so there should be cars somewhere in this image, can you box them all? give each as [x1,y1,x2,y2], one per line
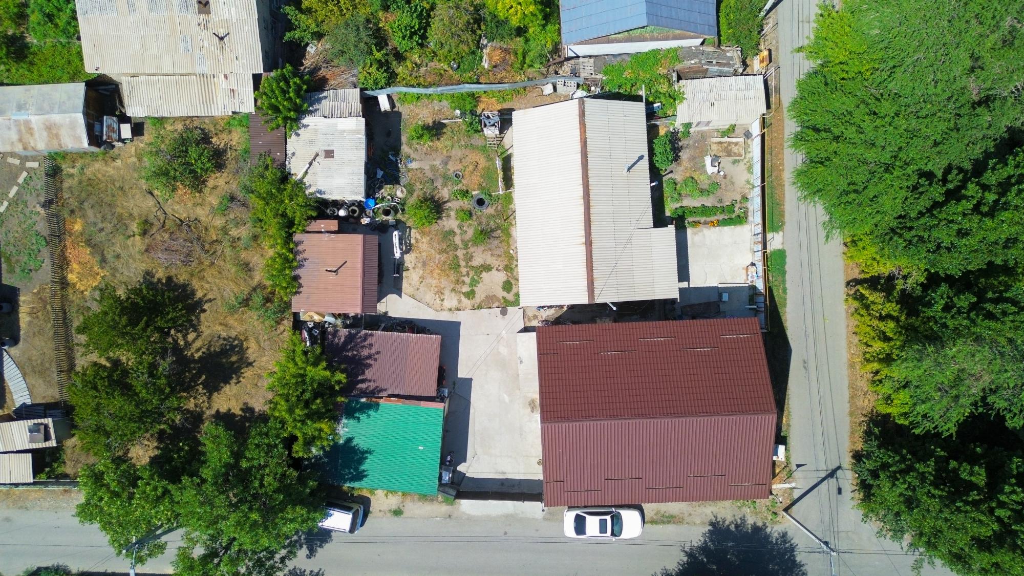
[564,505,644,543]
[305,497,361,535]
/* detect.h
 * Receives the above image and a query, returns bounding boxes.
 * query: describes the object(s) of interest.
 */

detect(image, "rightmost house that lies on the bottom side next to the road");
[535,317,780,507]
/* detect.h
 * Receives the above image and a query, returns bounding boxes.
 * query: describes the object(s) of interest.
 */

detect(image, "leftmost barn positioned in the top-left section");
[0,82,103,159]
